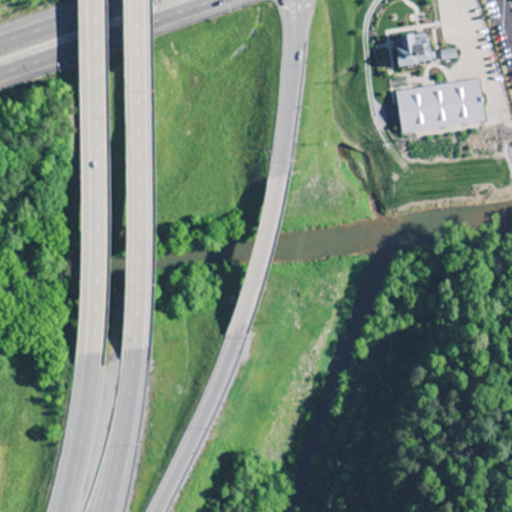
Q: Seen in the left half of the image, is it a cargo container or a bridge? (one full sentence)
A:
Visible in the left half of the image is a bridge.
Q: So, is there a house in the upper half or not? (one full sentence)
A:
Yes, a house appears in the upper half.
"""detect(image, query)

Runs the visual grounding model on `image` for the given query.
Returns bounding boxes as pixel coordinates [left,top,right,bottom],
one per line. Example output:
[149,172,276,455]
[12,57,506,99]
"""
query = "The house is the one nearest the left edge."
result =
[397,32,436,68]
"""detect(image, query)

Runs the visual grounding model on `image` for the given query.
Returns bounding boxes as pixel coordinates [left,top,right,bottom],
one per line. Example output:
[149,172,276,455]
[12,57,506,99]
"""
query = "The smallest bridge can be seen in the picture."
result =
[226,176,290,340]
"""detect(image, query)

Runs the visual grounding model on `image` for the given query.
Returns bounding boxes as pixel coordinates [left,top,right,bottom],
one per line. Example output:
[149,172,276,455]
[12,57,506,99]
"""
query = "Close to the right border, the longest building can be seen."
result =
[396,79,486,134]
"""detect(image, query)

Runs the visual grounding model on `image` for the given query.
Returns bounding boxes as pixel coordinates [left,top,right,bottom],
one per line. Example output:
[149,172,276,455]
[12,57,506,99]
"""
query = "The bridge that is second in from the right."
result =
[121,0,156,354]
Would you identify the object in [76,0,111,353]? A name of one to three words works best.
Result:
bridge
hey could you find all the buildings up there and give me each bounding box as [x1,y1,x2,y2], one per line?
[397,32,436,68]
[396,79,486,134]
[440,47,458,61]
